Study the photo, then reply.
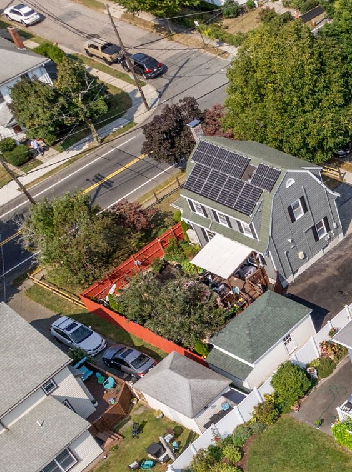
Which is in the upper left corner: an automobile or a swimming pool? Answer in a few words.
automobile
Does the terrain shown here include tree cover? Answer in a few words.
Yes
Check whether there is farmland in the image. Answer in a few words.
No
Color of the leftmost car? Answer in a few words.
white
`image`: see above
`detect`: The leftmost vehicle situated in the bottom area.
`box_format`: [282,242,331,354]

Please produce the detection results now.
[47,313,108,356]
